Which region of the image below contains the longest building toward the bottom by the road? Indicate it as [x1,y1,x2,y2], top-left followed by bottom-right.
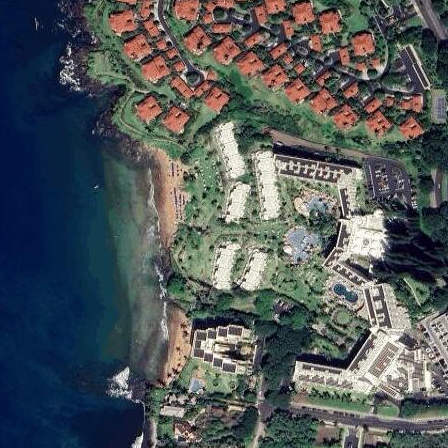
[275,154,431,401]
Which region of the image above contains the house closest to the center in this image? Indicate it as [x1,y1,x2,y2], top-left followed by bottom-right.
[221,183,247,221]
